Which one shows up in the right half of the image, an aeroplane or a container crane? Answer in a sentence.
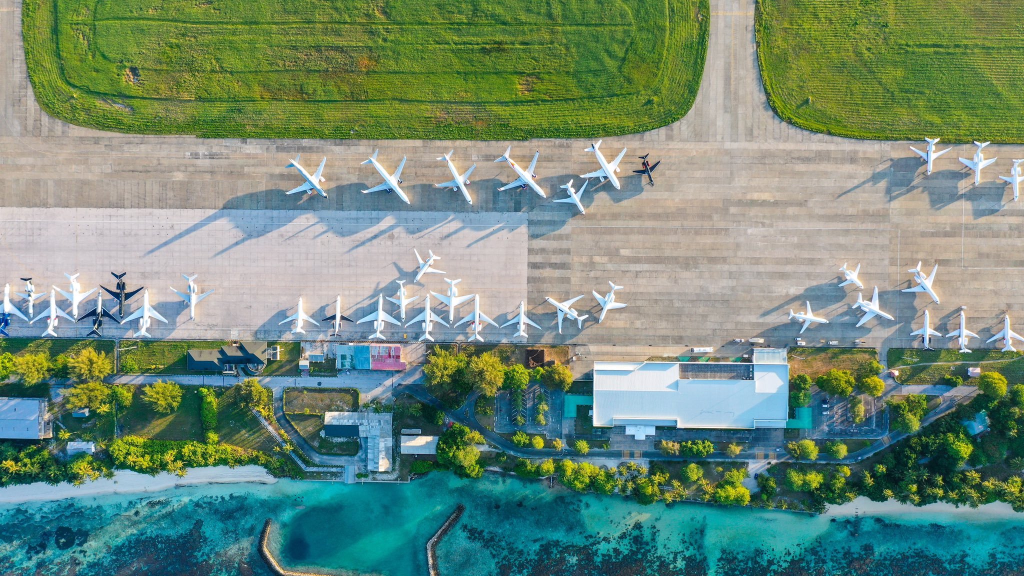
Looking in the right half of the image, you will find an aeroplane.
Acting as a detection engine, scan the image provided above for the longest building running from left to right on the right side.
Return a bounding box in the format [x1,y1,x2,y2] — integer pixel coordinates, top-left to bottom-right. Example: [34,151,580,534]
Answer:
[593,361,789,440]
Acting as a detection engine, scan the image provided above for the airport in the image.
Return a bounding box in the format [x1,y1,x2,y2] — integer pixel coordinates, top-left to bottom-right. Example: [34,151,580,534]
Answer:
[0,0,1024,373]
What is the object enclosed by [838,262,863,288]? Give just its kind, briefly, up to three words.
airplane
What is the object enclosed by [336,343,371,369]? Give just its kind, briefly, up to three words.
shed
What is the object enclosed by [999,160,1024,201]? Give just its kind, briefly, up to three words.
airplane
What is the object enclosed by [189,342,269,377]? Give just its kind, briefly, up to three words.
building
